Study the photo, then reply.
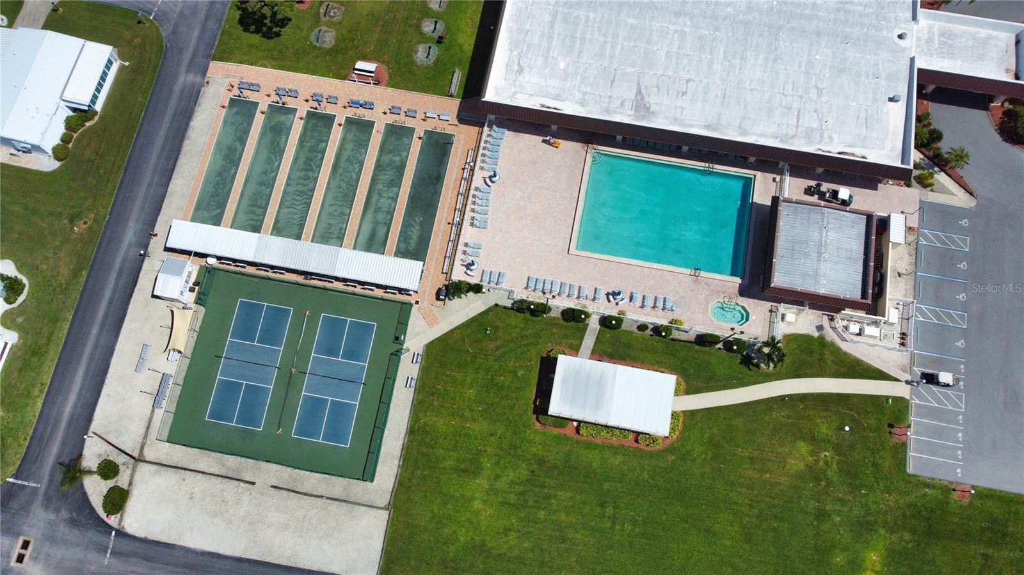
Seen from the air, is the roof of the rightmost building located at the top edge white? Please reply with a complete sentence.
Yes, the roof of the rightmost building located at the top edge appears white.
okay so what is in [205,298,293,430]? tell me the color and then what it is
blue sports court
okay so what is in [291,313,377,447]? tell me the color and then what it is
blue sports court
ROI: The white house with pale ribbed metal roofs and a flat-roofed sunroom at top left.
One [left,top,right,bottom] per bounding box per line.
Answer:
[0,23,129,154]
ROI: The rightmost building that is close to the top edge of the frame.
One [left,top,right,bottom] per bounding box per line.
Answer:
[475,0,920,181]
